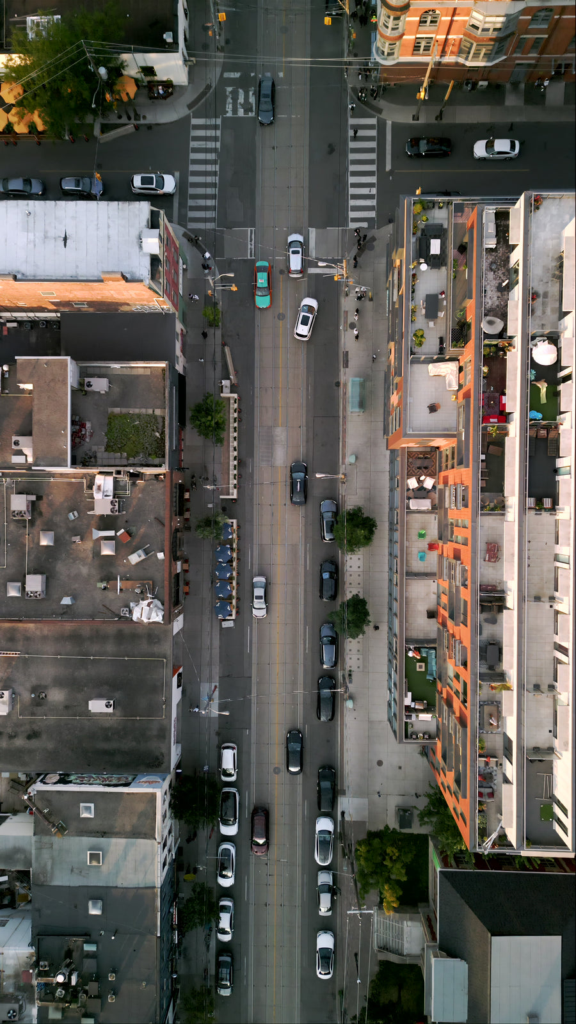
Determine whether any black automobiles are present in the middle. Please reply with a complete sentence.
Yes, in the middle there is a black automobile.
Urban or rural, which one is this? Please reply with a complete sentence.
The area shown here is urban.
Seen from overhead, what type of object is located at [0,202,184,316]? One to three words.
building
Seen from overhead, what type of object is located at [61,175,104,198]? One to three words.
car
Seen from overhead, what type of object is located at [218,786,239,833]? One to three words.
car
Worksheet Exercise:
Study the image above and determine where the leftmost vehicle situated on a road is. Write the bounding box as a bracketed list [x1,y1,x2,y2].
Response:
[0,175,46,198]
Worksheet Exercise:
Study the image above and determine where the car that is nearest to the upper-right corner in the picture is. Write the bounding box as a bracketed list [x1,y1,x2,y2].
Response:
[472,138,518,162]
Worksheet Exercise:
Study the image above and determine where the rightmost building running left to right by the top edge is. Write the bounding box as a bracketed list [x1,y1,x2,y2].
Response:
[370,0,576,87]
